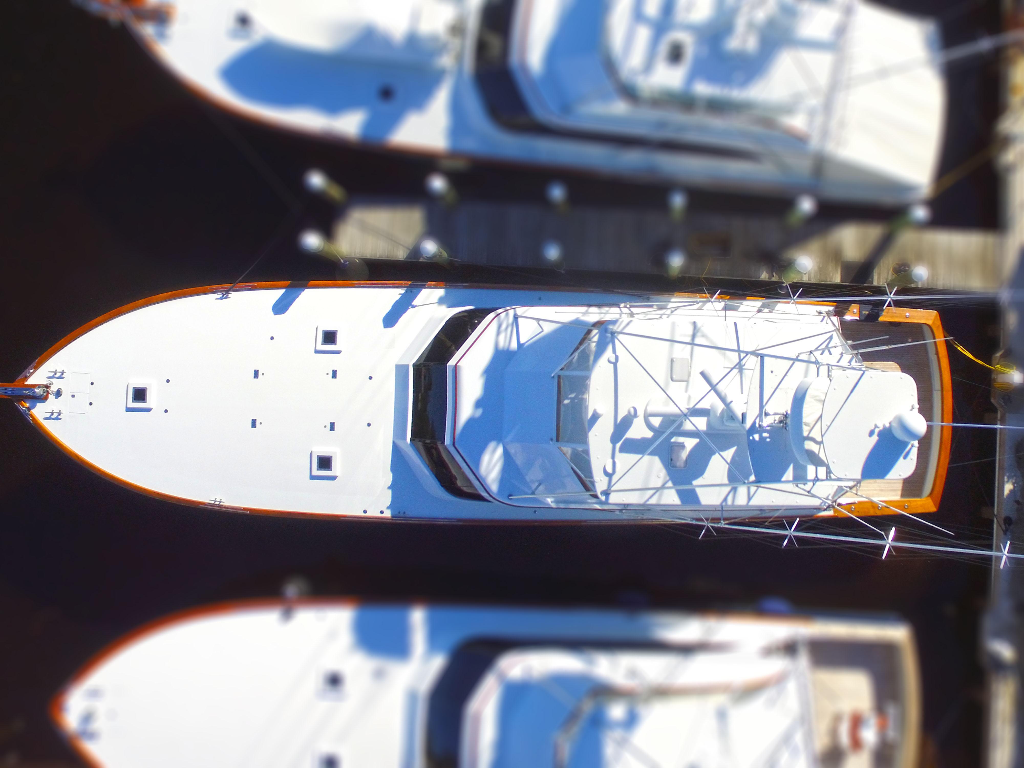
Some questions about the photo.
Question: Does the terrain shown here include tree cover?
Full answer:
No, there is no tree cover in the image.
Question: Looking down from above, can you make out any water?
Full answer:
Yes, some water is visible.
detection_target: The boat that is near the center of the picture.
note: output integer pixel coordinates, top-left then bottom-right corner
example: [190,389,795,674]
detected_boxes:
[0,276,1024,576]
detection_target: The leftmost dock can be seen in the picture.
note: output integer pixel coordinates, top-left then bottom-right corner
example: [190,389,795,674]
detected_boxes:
[337,195,996,292]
